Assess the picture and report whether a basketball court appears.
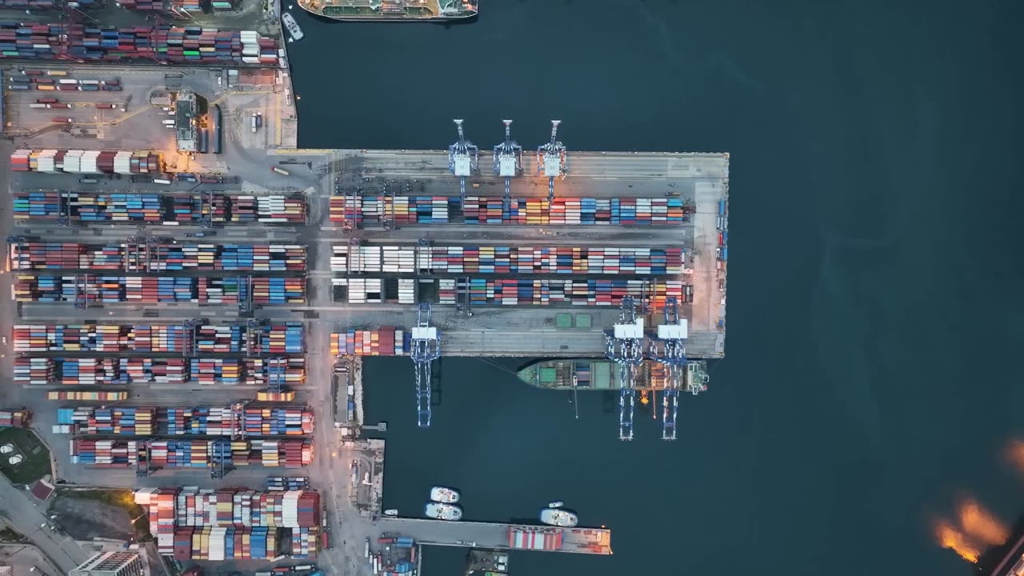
No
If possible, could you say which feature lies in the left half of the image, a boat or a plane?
boat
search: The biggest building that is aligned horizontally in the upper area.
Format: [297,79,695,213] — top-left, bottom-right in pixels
[237,68,274,86]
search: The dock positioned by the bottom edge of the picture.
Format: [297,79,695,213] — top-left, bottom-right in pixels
[381,515,612,554]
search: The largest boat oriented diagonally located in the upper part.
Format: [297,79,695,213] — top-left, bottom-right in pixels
[284,14,306,44]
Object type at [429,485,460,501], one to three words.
boat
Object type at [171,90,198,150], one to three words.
building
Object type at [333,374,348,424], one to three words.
shed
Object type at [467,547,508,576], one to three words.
ship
